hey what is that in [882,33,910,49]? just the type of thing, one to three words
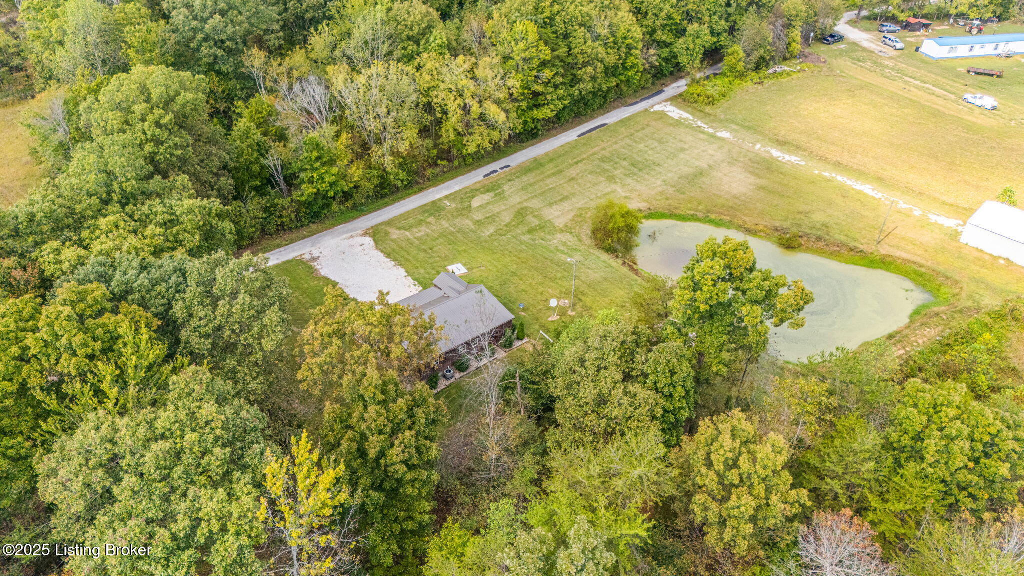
car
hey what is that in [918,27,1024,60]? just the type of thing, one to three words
house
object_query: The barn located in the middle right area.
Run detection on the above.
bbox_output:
[961,201,1024,267]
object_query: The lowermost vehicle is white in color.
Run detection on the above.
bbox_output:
[962,91,1003,108]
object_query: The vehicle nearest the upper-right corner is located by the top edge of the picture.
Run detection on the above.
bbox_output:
[967,18,987,33]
